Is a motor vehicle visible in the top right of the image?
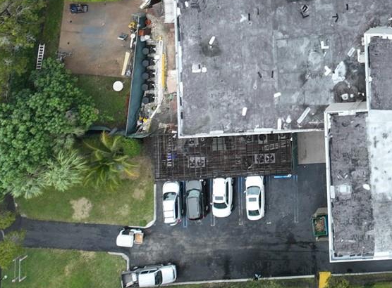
No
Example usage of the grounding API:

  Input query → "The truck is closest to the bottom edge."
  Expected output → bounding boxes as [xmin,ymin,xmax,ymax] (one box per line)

[120,262,178,288]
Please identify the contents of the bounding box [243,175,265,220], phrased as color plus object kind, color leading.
white car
